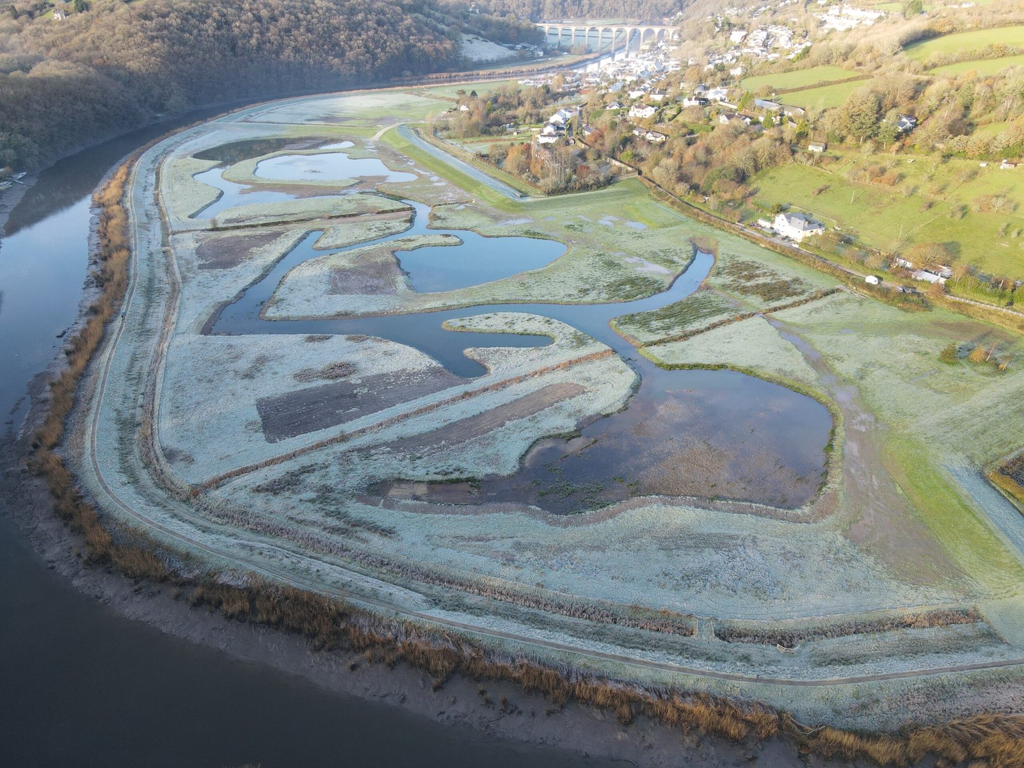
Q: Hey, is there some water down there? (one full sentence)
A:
Yes, some water is visible.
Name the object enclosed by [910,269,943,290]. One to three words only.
shed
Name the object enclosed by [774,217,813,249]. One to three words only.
house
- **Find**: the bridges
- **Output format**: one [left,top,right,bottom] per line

[533,24,687,50]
